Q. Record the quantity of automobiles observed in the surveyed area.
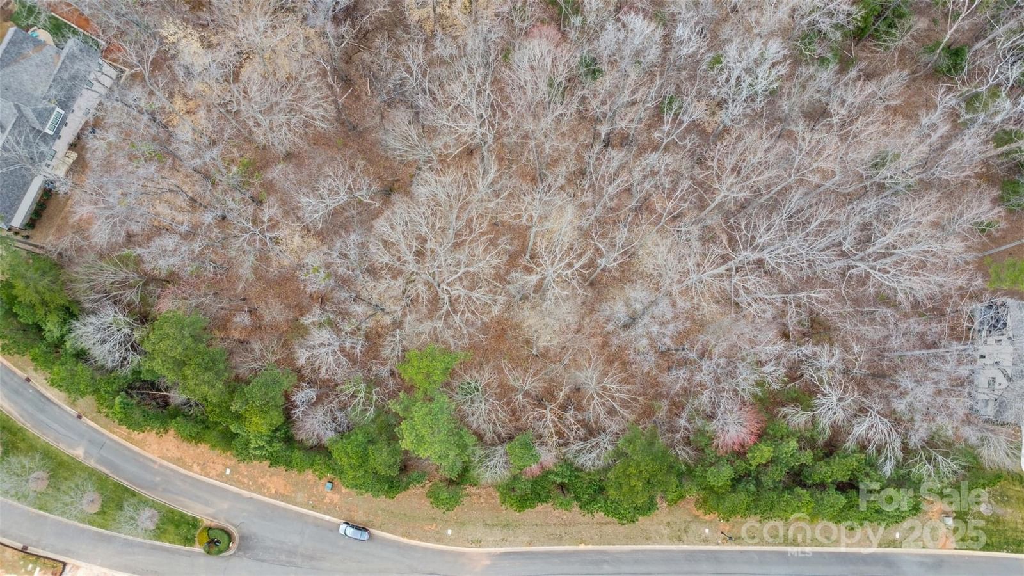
1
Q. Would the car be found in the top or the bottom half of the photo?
bottom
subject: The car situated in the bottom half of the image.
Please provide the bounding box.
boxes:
[337,523,370,544]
